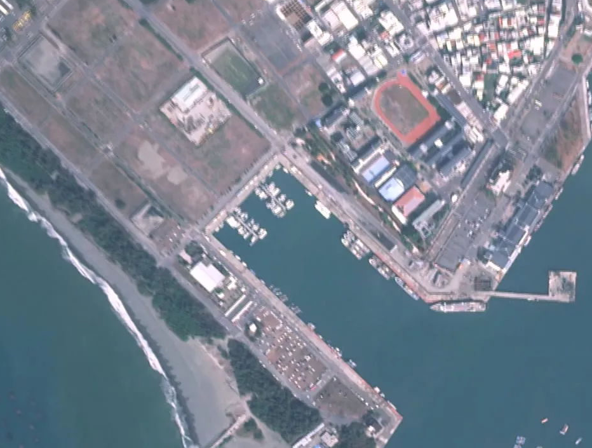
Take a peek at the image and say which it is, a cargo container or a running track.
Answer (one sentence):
This aerial view contains a running track.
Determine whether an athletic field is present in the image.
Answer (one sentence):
Yes, this view includes an athletic field.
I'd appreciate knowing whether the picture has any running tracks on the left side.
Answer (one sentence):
No, there's no running track to be seen on the left side.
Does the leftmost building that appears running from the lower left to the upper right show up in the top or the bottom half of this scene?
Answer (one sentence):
Seen from above, the leftmost building that appears running from the lower left to the upper right lies in the top half of the view.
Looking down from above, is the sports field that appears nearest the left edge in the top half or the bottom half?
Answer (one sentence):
You can find the sports field that appears nearest the left edge in the top half.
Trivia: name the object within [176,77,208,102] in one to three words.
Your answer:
building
